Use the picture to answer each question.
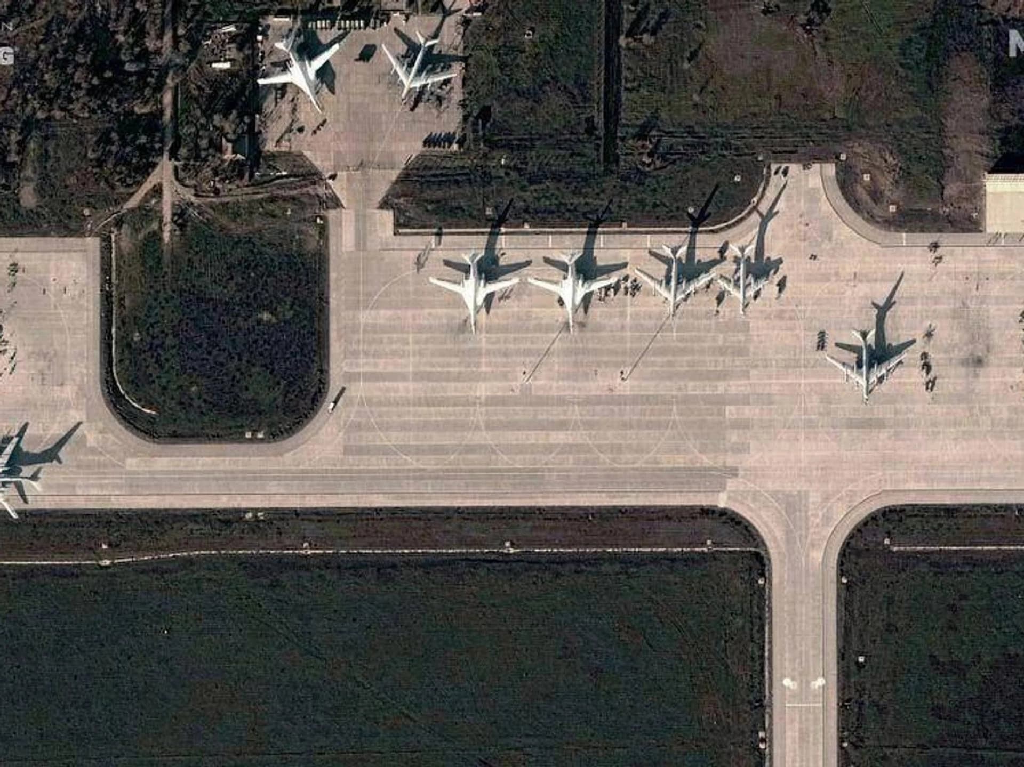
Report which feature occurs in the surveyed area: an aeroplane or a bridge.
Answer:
aeroplane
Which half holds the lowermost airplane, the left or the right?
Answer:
left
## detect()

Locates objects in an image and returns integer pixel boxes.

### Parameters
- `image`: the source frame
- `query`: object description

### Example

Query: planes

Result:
[718,240,768,312]
[384,27,459,100]
[430,247,519,332]
[0,440,46,519]
[827,327,907,398]
[636,243,716,315]
[256,30,338,110]
[528,247,617,333]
